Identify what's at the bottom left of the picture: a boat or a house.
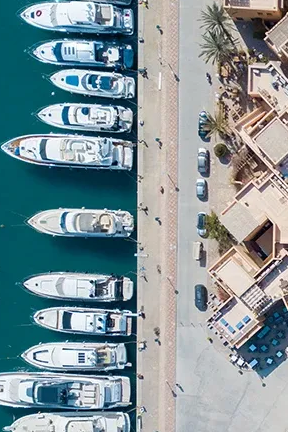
boat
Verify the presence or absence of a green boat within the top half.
No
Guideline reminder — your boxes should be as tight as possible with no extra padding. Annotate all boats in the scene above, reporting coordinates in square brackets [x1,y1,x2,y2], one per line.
[0,371,136,407]
[34,307,142,337]
[36,105,142,139]
[124,44,135,70]
[18,5,141,40]
[0,135,138,175]
[19,341,133,370]
[13,272,142,306]
[27,210,142,240]
[4,403,136,432]
[49,71,147,101]
[25,42,138,74]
